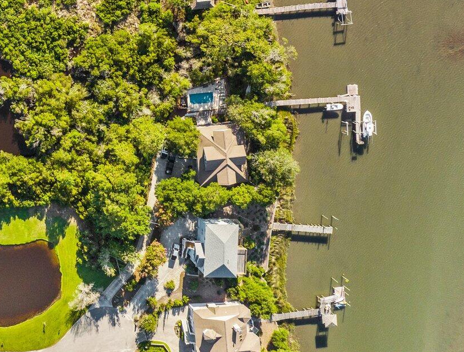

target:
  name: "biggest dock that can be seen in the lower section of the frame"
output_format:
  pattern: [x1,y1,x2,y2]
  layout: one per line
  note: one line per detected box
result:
[264,285,345,323]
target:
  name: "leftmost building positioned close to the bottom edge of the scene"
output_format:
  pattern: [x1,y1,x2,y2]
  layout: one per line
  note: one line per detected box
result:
[179,291,277,352]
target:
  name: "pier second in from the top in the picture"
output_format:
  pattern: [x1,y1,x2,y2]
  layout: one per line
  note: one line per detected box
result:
[266,84,363,145]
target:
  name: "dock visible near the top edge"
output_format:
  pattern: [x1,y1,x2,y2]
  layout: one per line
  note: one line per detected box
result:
[257,0,346,15]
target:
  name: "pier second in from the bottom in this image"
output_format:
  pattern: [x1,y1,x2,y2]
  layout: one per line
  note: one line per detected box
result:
[273,221,334,235]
